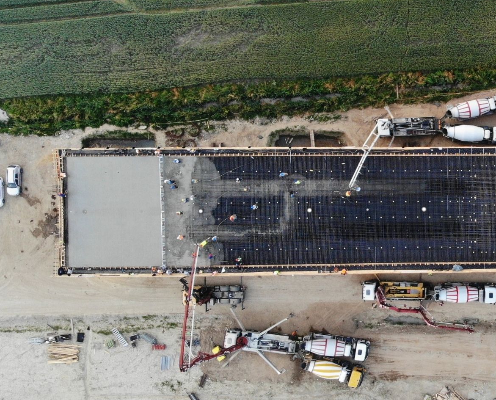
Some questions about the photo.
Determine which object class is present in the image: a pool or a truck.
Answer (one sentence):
The one in the frame is a truck.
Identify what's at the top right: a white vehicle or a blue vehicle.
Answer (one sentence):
It is a white vehicle that can be seen at the top right.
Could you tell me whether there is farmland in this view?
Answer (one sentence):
Yes, the picture does contain farmland.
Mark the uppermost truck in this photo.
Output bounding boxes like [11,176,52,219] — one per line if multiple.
[444,95,496,123]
